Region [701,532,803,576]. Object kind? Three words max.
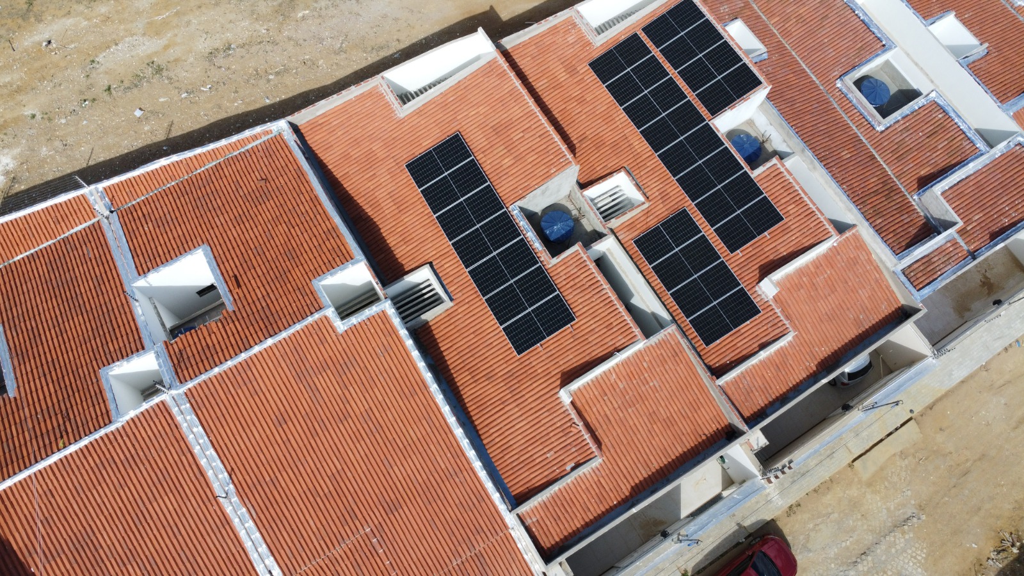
car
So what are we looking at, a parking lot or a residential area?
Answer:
residential area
